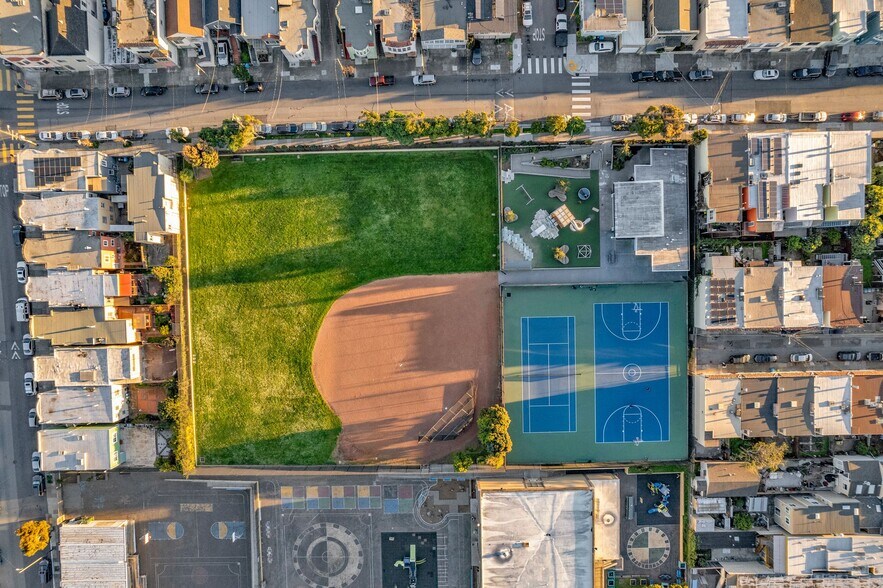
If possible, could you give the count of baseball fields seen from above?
one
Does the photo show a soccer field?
No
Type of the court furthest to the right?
basketball court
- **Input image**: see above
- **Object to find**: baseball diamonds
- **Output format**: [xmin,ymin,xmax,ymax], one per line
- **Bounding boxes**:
[187,152,499,464]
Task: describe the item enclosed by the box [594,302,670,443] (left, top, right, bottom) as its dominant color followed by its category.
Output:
blue basketball court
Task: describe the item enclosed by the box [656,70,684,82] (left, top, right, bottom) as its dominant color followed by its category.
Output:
black vehicle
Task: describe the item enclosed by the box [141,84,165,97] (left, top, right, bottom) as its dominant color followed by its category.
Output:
black vehicle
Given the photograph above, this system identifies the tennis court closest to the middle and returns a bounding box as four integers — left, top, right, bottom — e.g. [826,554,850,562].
[522,316,577,433]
